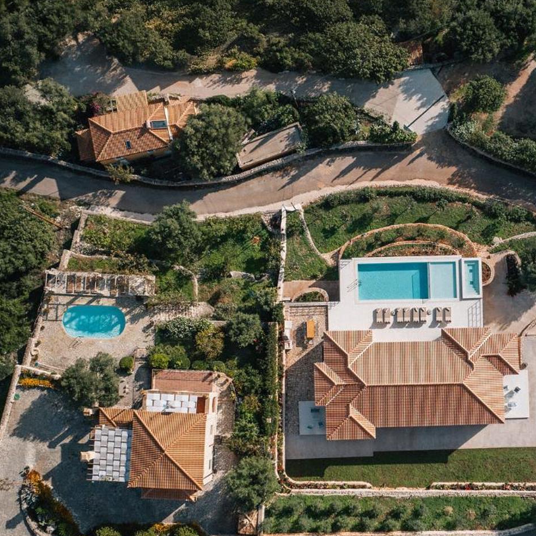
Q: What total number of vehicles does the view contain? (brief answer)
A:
none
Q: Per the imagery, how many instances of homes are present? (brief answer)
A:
3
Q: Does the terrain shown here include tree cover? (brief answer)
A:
Yes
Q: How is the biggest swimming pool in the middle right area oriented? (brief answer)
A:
from left to right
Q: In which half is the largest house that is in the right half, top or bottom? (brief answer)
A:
bottom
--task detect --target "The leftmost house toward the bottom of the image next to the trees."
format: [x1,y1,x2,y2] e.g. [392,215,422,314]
[78,368,238,502]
